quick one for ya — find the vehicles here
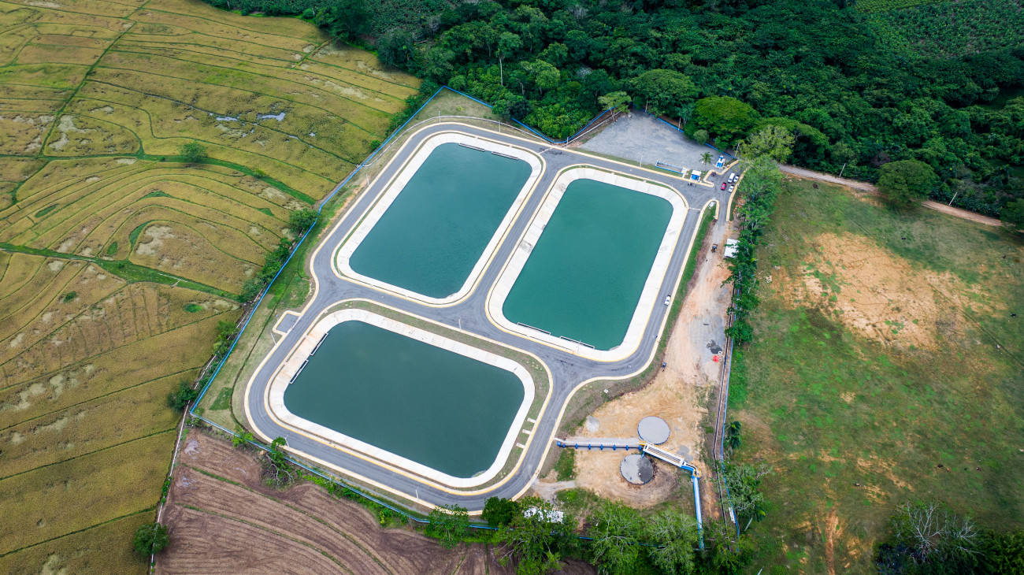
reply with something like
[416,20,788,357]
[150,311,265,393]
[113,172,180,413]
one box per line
[720,182,727,191]
[733,174,741,183]
[728,184,735,193]
[727,173,734,182]
[664,294,672,306]
[710,245,717,254]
